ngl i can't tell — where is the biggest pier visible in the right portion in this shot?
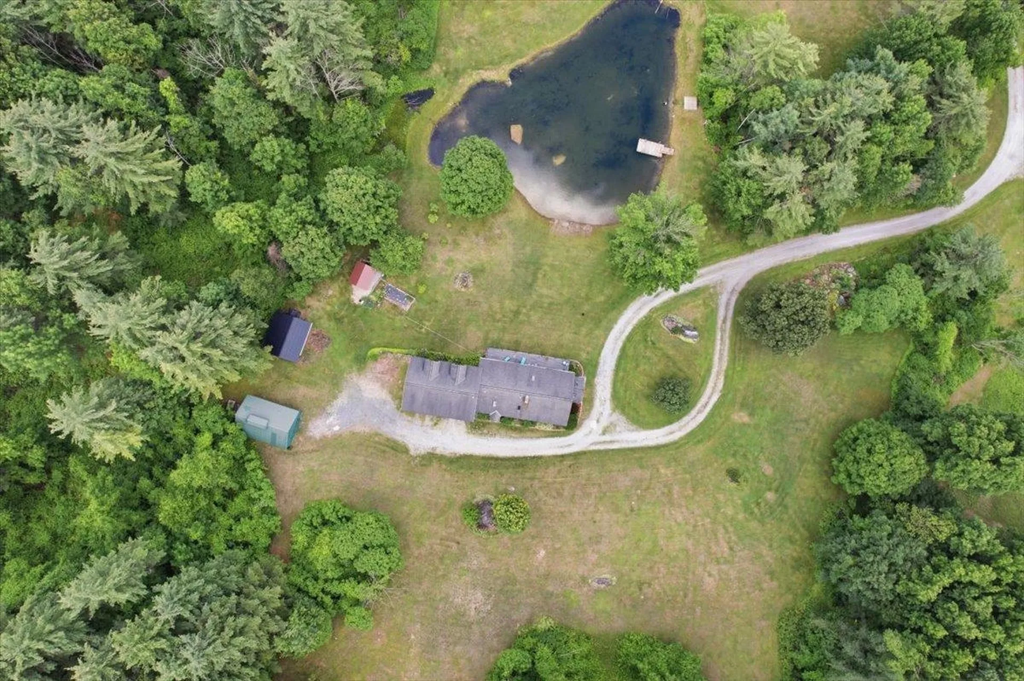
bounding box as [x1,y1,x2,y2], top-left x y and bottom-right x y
[637,138,665,157]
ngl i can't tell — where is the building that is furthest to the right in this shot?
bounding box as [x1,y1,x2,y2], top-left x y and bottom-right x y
[400,347,586,426]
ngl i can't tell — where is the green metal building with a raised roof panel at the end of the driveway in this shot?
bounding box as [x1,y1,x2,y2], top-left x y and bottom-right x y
[236,394,303,449]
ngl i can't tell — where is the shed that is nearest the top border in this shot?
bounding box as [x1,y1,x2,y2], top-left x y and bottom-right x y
[349,262,382,291]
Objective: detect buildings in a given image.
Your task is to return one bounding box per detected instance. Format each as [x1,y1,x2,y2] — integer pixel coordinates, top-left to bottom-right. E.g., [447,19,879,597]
[400,347,586,426]
[349,262,382,291]
[265,311,317,362]
[236,394,303,449]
